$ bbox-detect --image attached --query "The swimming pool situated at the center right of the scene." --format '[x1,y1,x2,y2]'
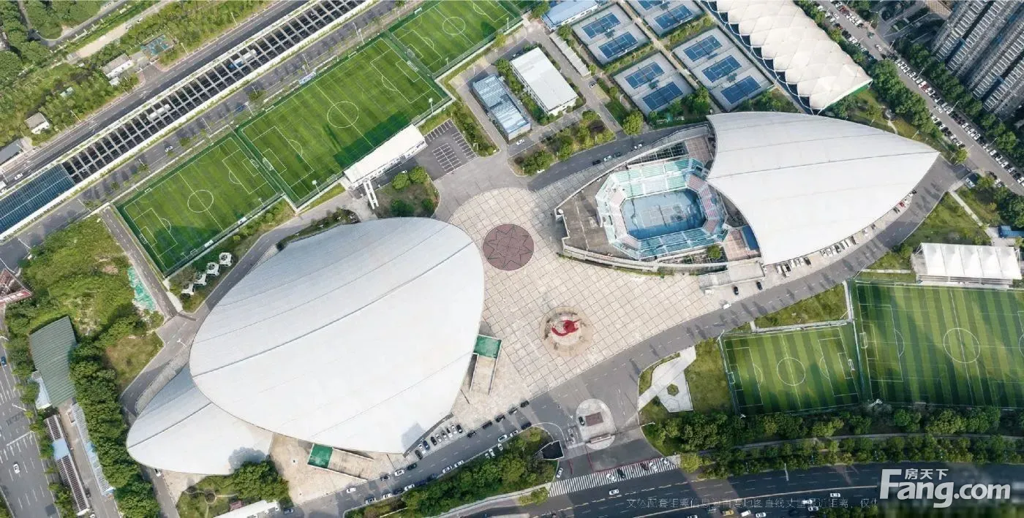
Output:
[742,226,760,251]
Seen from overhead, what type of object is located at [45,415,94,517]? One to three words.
shed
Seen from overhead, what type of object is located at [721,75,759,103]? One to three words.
tennis court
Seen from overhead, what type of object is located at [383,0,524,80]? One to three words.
soccer field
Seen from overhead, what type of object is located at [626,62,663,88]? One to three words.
tennis court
